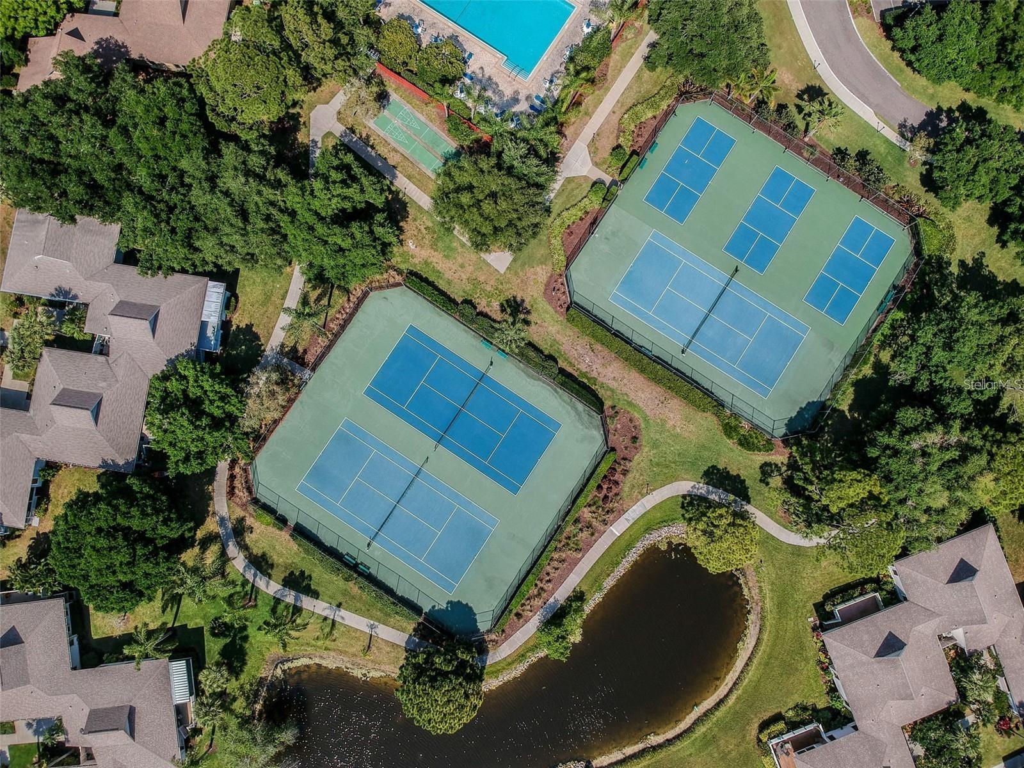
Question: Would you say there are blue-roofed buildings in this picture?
No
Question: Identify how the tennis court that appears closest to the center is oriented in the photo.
diagonally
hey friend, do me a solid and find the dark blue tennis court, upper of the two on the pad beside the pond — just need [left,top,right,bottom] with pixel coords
[362,323,563,496]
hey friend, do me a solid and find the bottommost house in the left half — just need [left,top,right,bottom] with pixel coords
[0,586,205,768]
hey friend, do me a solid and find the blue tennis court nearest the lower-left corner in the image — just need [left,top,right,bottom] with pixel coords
[297,417,499,594]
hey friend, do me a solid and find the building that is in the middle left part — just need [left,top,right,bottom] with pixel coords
[0,205,235,530]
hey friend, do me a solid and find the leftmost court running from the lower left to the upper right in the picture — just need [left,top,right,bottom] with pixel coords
[643,116,737,225]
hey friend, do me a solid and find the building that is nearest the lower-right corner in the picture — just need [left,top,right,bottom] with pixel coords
[769,523,1024,768]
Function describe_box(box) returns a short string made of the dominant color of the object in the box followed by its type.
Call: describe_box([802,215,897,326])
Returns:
blue sports court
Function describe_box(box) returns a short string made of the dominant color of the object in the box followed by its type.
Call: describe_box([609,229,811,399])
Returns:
blue tennis court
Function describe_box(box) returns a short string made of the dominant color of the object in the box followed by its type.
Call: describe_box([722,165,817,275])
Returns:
blue sports court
